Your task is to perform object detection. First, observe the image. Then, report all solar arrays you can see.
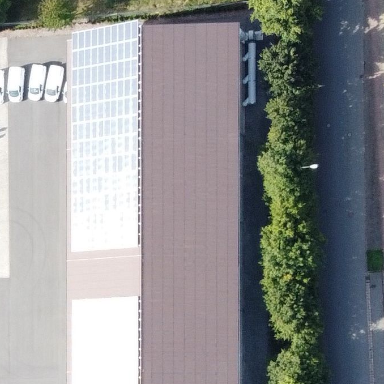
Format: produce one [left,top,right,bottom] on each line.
[72,296,137,384]
[71,20,137,252]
